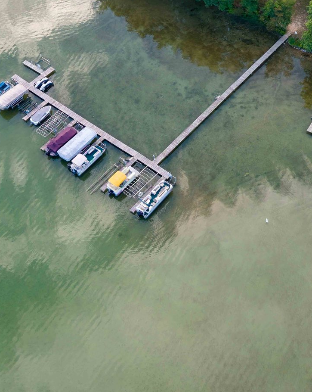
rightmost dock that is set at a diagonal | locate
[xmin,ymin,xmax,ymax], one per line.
[150,34,292,166]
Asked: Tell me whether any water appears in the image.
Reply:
Yes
